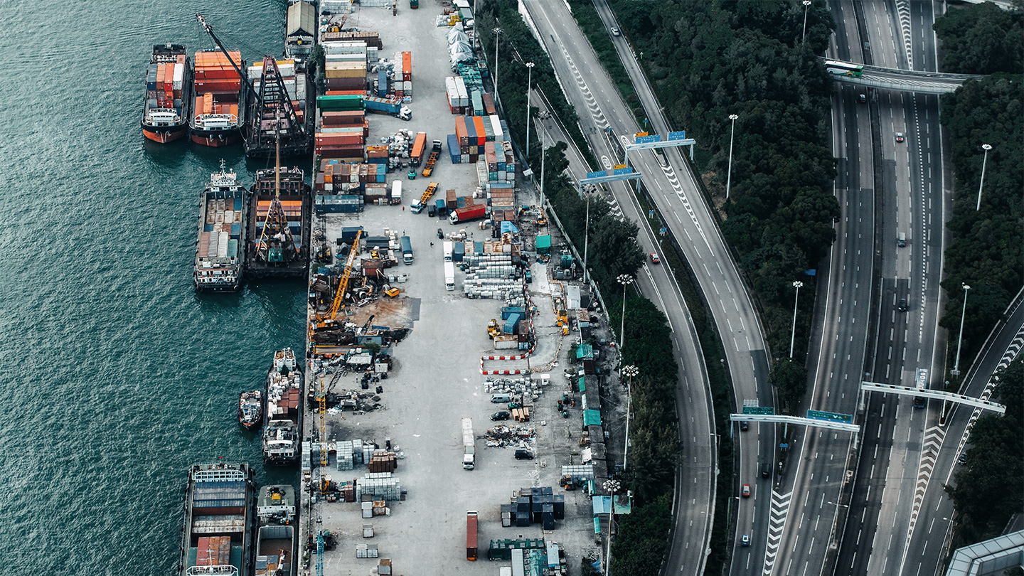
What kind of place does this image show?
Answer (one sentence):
This looks like a port.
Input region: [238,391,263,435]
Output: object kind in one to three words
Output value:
boat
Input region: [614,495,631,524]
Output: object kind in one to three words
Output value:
shed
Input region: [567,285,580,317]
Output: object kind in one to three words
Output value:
shed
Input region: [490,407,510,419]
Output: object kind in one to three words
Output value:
vehicle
